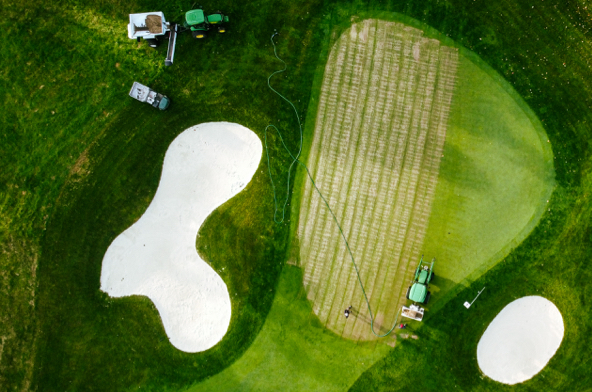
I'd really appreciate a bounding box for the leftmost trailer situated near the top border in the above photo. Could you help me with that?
[128,12,185,68]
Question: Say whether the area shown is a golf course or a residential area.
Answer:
golf course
